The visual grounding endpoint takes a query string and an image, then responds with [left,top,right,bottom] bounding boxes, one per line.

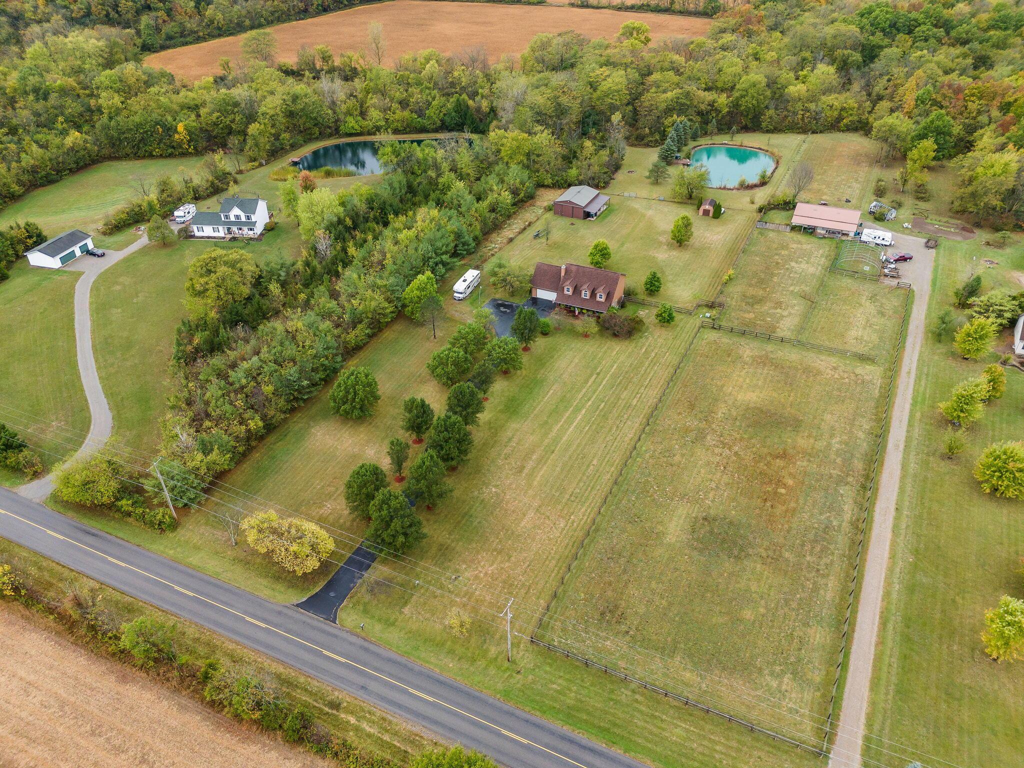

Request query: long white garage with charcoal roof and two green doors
[27,228,95,269]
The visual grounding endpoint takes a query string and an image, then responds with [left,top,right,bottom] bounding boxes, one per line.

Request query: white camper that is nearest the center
[453,267,481,299]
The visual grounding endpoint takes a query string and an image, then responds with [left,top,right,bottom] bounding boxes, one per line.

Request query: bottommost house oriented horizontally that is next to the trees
[534,263,636,322]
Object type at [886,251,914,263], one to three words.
vehicle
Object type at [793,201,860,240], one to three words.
building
